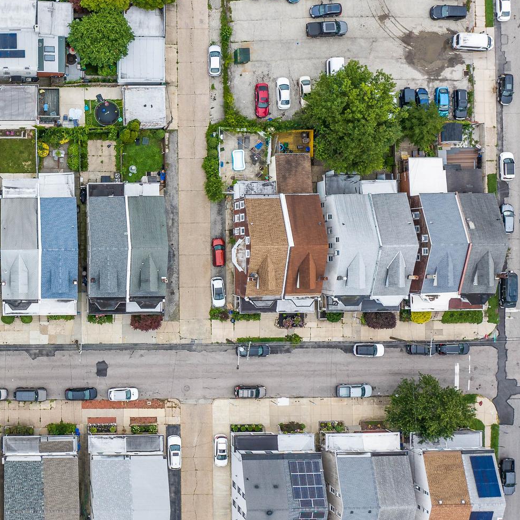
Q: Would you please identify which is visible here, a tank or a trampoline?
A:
trampoline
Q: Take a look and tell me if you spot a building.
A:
Yes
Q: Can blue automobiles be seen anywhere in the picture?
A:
Yes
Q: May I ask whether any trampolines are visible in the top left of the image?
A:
Yes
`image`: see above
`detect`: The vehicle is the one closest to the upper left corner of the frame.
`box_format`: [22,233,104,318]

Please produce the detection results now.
[207,45,223,75]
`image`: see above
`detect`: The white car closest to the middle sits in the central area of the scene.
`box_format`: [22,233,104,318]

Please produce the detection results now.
[211,277,227,307]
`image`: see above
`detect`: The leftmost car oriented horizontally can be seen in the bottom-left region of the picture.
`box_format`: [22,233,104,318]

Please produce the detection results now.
[14,387,47,403]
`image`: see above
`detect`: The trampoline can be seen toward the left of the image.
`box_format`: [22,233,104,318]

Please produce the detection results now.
[94,99,121,125]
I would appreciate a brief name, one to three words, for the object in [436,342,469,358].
car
